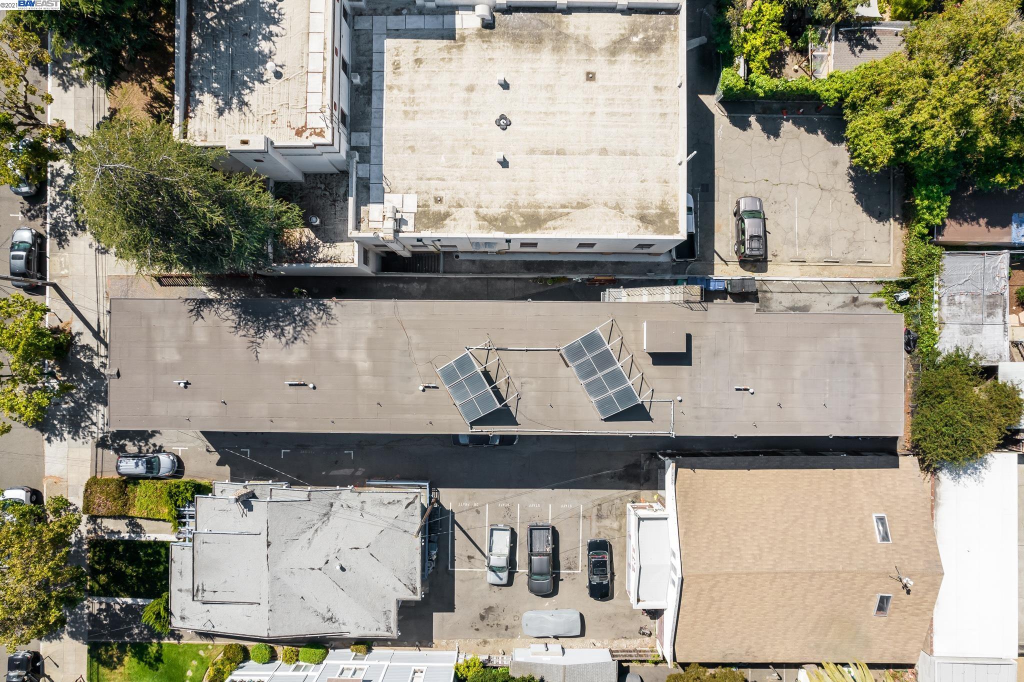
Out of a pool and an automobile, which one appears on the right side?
automobile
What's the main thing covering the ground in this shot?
buildings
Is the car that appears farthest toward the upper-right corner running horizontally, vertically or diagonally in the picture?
vertically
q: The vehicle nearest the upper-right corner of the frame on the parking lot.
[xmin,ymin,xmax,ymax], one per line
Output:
[735,198,767,262]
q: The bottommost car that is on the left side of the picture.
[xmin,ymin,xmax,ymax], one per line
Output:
[9,646,42,682]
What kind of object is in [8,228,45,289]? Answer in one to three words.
car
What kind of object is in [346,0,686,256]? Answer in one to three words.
building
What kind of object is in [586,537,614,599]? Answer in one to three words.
car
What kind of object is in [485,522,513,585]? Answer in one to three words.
truck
